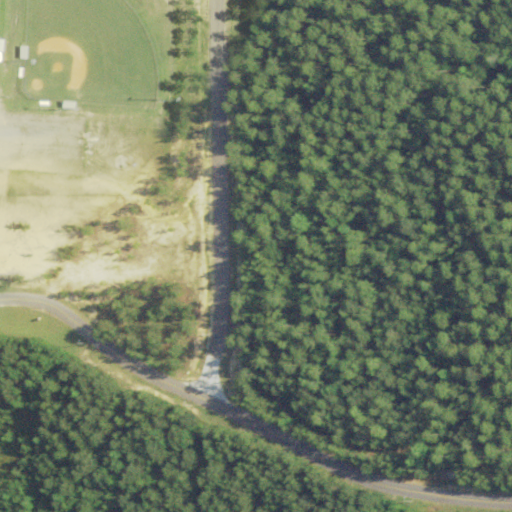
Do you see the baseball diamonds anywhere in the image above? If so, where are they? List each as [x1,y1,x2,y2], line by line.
[18,0,156,102]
